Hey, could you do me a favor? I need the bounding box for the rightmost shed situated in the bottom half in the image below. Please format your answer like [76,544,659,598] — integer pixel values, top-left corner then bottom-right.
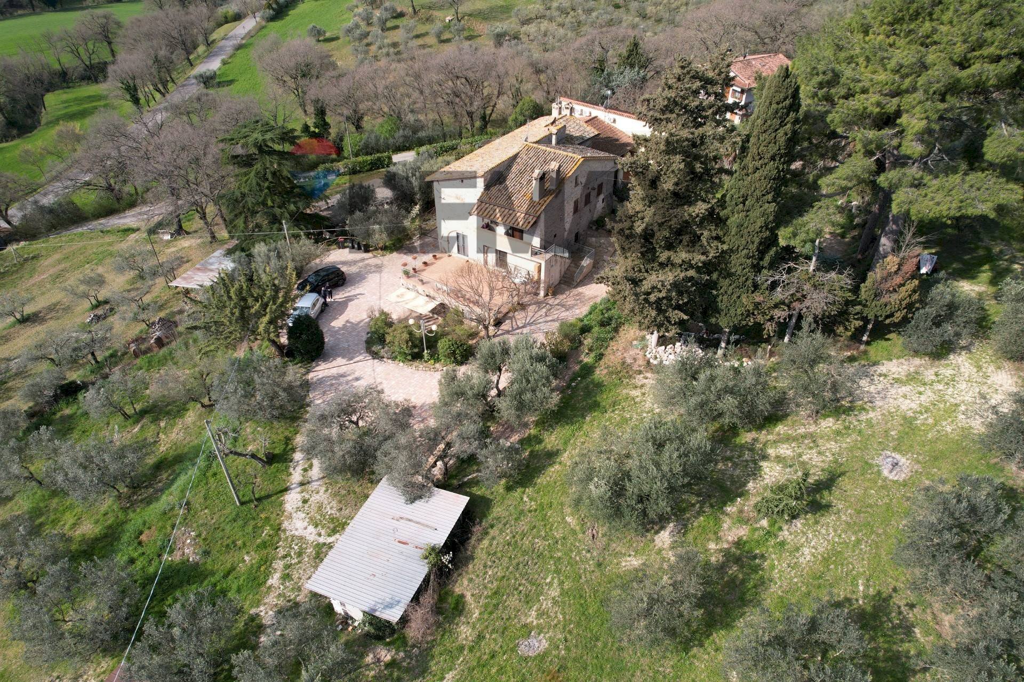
[307,480,470,623]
